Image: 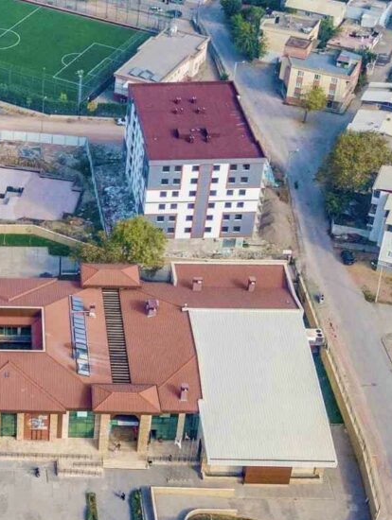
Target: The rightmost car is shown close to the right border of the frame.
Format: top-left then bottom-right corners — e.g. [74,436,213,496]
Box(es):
[367,252,379,267]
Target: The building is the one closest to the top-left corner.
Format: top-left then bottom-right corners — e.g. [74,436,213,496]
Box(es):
[113,28,208,100]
